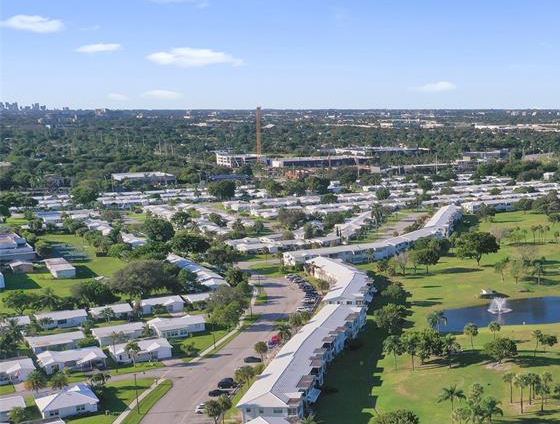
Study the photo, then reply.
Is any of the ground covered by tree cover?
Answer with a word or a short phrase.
Yes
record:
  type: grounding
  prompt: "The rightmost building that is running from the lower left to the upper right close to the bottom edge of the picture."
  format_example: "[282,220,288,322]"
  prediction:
[234,304,362,424]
